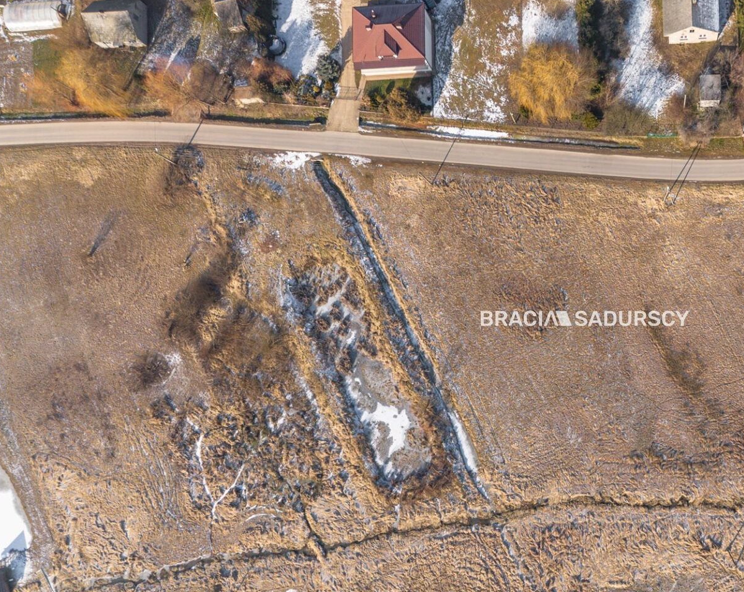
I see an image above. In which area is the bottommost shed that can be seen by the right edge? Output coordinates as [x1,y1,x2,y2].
[698,74,722,111]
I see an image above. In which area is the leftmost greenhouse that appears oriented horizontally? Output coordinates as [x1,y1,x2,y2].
[0,1,67,30]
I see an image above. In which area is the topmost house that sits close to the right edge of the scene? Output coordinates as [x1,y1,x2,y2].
[663,0,726,45]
